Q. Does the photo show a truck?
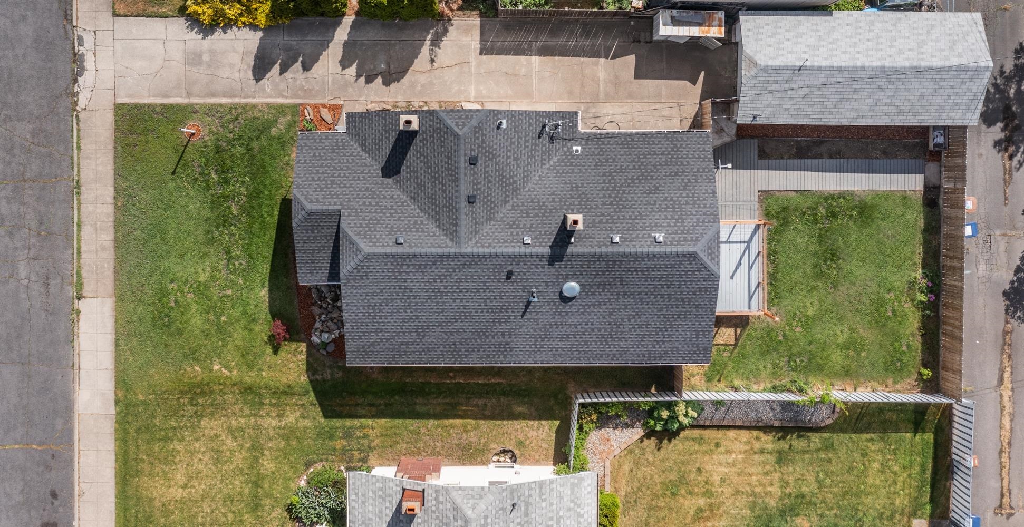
No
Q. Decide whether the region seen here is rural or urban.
urban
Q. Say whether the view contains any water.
No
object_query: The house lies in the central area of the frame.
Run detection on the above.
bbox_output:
[290,105,724,367]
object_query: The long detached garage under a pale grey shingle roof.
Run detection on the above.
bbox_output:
[730,11,993,124]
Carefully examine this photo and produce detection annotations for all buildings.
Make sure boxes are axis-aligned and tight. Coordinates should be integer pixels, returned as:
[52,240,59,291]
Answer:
[652,9,725,53]
[345,457,600,527]
[290,105,724,367]
[730,11,993,124]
